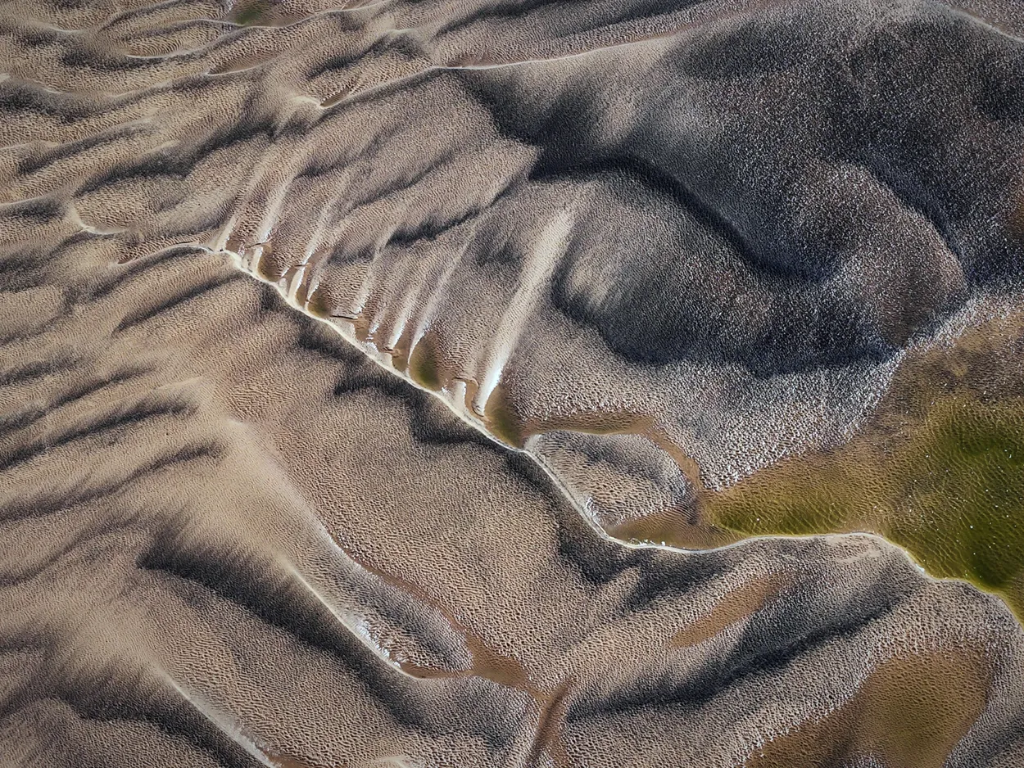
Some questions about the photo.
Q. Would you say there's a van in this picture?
No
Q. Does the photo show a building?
No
